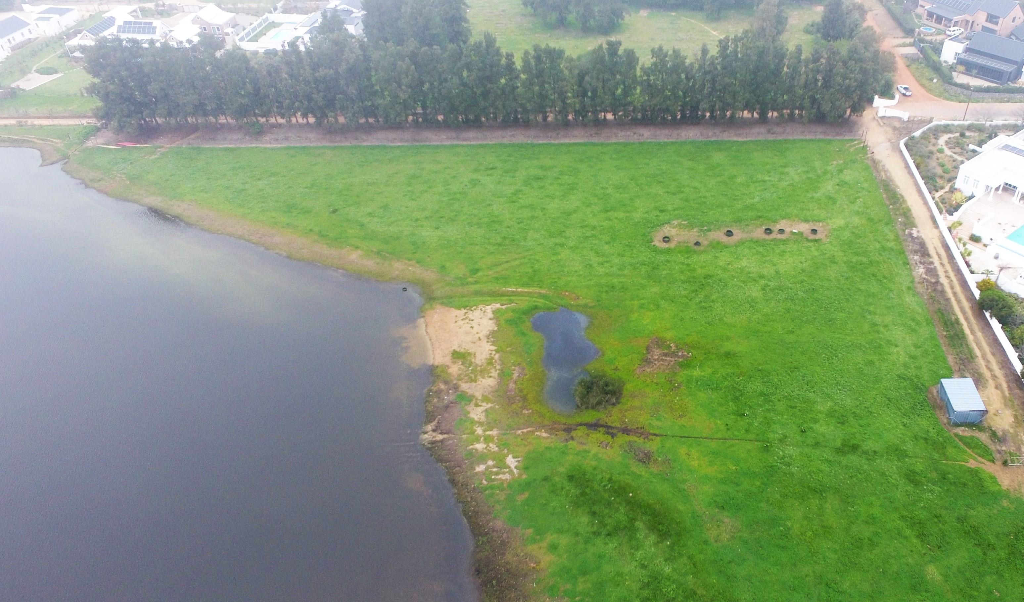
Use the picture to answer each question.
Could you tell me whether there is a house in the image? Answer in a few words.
Yes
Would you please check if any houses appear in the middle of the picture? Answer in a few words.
No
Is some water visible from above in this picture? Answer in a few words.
Yes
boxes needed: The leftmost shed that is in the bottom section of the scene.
[934,375,989,430]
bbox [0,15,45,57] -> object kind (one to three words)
house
